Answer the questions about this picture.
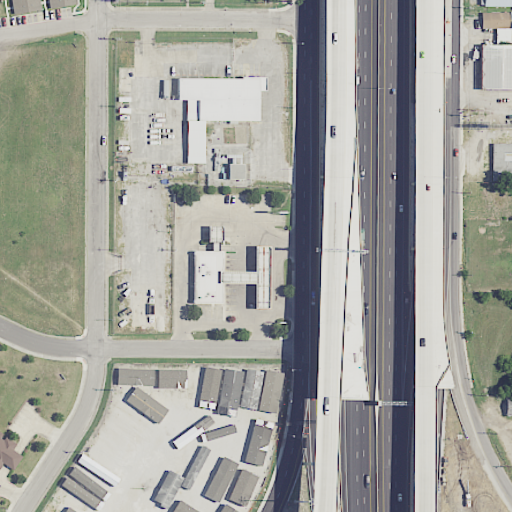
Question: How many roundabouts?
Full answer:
The photo contains no roundabouts.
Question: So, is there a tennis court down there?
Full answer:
No, the scene contains no tennis court.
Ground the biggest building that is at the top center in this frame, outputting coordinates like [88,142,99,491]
[178,78,267,163]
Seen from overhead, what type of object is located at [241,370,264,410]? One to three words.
house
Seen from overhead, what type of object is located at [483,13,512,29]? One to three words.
shed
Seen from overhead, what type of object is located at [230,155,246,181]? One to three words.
building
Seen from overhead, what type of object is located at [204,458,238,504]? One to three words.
house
